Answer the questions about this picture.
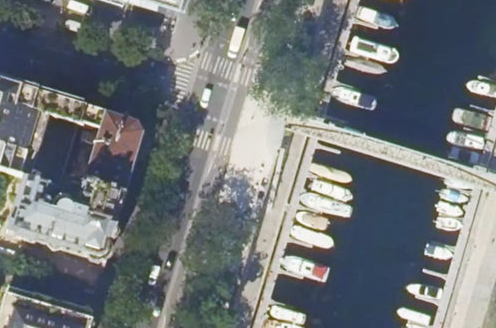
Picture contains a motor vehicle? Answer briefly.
Yes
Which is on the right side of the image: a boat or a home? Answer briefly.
boat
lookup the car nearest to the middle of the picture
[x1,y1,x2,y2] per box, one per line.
[199,86,213,109]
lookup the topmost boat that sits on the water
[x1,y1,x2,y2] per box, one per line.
[354,7,399,28]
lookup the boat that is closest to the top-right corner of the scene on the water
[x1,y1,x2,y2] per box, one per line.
[466,80,496,100]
